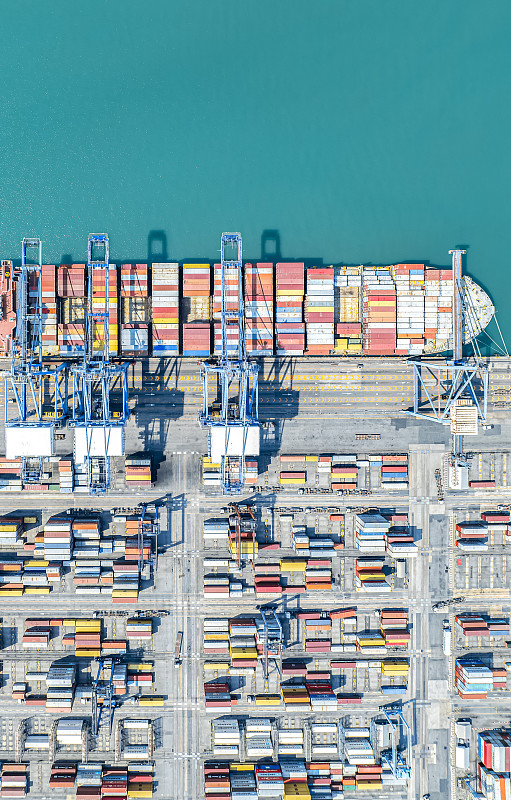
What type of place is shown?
port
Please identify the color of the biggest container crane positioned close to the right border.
white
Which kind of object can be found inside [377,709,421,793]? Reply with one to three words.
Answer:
container crane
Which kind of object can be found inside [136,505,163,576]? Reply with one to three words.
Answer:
container crane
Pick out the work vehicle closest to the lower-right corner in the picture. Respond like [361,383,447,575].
[454,770,477,800]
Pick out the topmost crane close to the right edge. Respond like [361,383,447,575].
[397,250,488,490]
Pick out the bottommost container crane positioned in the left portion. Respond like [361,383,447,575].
[91,657,120,738]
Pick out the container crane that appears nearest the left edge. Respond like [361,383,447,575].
[0,234,81,483]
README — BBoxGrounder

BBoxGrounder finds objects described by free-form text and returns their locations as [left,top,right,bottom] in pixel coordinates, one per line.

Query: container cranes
[136,505,163,576]
[377,709,421,793]
[256,609,287,684]
[0,234,81,483]
[397,250,488,490]
[230,505,260,576]
[91,657,120,738]
[65,228,138,497]
[193,227,260,496]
